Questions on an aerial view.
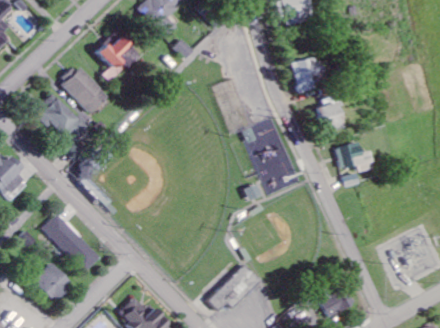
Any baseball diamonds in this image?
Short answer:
Yes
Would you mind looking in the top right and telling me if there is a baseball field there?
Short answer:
No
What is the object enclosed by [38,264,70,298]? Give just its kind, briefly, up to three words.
house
